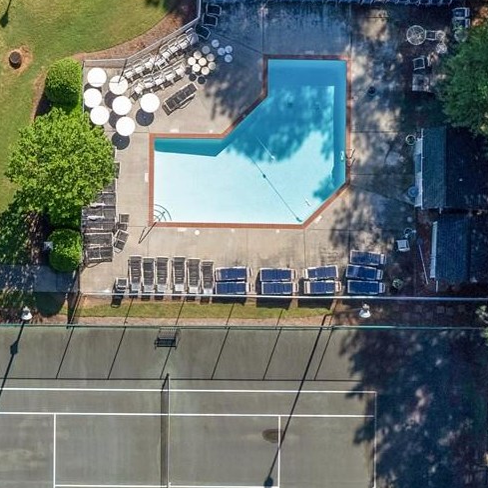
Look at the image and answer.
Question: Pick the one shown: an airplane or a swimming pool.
swimming pool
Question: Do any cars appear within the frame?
No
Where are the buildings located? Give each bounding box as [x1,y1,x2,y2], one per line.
[415,126,487,214]
[431,219,488,289]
